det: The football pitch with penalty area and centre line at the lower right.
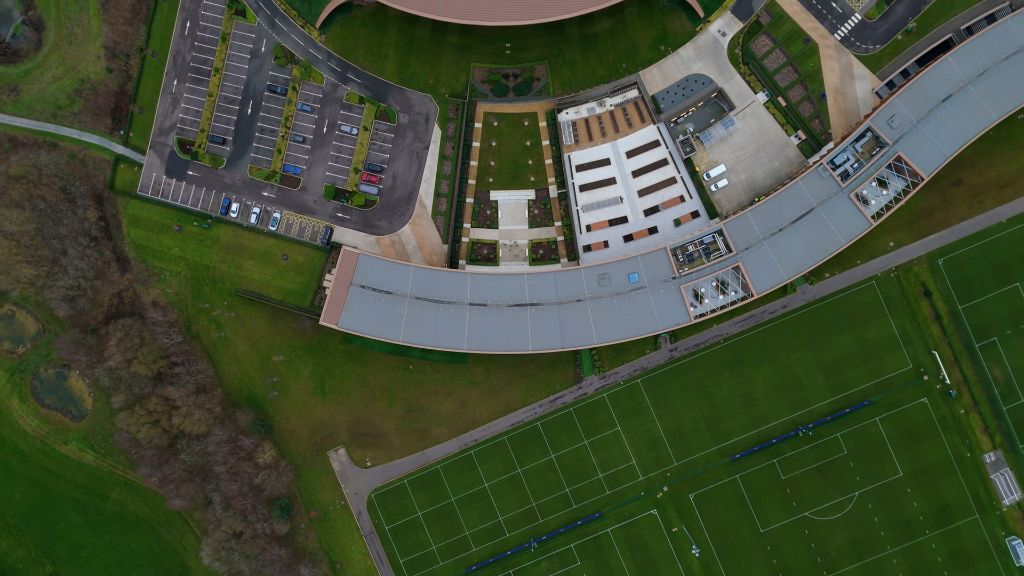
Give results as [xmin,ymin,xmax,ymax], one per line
[687,394,1004,576]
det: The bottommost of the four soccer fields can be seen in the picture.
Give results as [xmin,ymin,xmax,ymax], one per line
[498,507,686,576]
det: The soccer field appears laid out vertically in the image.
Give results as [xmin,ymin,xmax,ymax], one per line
[935,222,1024,454]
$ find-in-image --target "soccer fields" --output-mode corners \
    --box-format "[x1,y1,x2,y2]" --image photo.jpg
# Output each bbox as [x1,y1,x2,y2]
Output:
[498,507,686,576]
[687,394,1004,576]
[369,277,916,576]
[935,222,1024,454]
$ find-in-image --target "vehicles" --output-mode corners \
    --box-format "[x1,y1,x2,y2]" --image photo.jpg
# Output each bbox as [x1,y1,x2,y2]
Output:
[360,184,379,194]
[362,173,380,184]
[322,225,333,245]
[250,207,261,225]
[270,212,281,230]
[283,165,300,174]
[221,198,231,215]
[365,162,383,172]
[208,134,227,145]
[290,134,307,144]
[340,125,359,135]
[710,178,730,192]
[268,84,287,95]
[704,164,728,181]
[231,202,241,218]
[297,103,314,113]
